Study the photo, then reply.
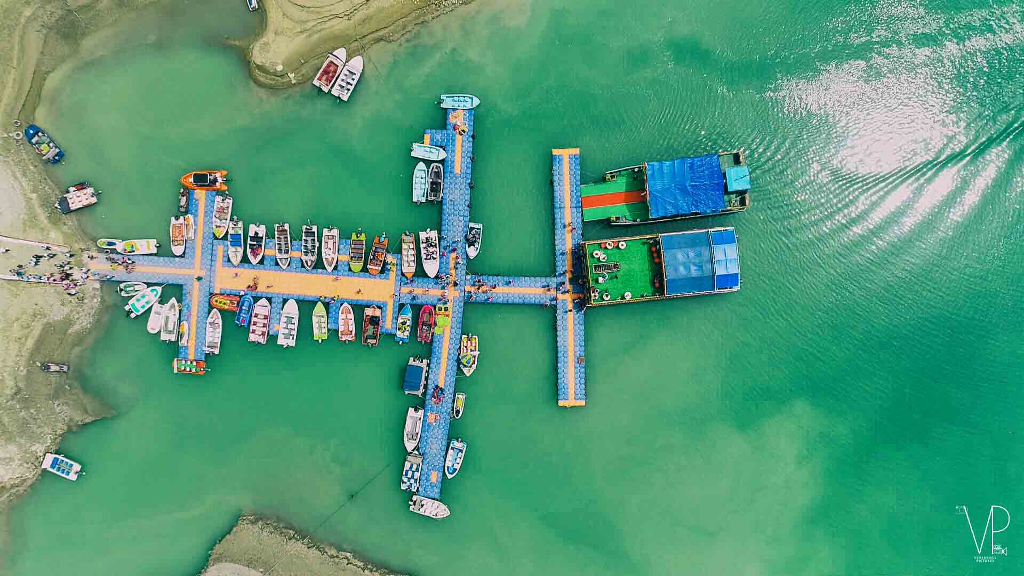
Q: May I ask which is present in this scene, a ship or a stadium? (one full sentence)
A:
The image shows a ship.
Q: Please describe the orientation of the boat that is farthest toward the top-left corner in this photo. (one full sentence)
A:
Seen from above, the boat that is farthest toward the top-left corner lies on a diagonal.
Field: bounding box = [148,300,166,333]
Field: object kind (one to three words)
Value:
boat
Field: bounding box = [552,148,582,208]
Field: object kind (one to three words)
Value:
pier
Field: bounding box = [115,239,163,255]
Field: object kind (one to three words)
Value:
boat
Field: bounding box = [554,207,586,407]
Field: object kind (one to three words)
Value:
pier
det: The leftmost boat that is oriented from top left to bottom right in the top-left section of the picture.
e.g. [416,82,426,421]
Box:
[25,124,68,167]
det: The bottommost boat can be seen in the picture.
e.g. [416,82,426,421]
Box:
[407,495,450,518]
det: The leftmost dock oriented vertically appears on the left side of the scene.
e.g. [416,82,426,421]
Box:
[178,188,218,361]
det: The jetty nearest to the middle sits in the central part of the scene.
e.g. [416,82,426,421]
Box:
[464,274,556,309]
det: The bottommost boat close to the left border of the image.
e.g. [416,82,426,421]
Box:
[42,454,88,480]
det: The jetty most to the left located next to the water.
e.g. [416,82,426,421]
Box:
[88,252,186,284]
